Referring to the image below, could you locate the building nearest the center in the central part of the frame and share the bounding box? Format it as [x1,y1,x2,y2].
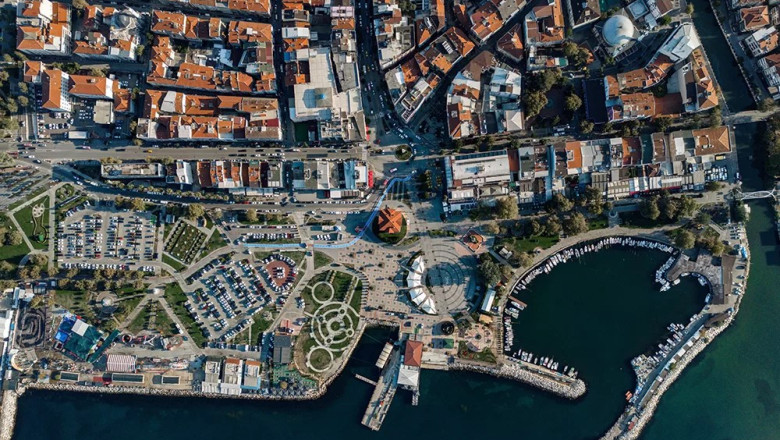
[378,209,404,234]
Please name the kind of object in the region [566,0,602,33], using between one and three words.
house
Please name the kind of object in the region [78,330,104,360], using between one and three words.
tent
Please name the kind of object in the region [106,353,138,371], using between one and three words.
tent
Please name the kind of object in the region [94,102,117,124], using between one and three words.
building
